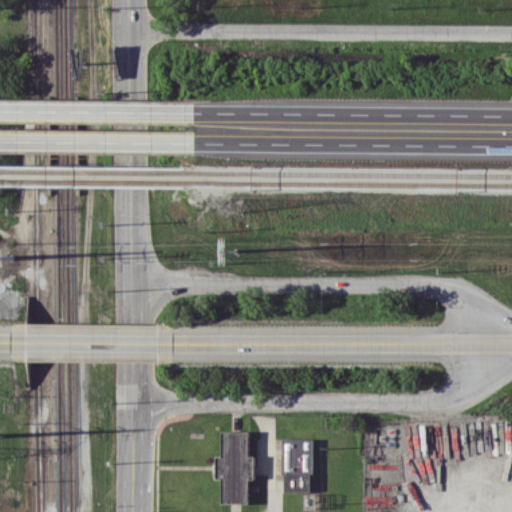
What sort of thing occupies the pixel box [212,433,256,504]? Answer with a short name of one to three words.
building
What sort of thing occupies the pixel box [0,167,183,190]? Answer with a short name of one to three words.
bridge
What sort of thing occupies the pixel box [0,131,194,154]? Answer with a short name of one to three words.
bridge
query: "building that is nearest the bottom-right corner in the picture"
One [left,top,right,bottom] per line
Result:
[278,440,314,492]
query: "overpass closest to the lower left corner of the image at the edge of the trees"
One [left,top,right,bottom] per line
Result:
[10,324,173,364]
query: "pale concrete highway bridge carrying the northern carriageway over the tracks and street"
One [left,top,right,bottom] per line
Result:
[0,100,194,124]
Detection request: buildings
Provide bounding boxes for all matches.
[212,433,256,504]
[278,440,314,492]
